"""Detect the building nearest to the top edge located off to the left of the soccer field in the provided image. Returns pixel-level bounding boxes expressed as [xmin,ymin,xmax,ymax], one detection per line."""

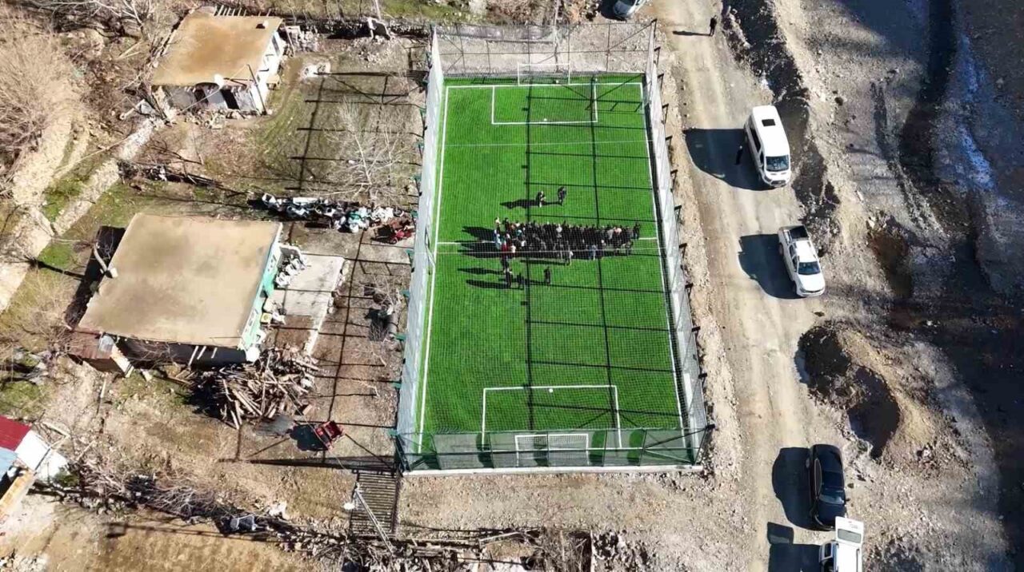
[153,9,290,112]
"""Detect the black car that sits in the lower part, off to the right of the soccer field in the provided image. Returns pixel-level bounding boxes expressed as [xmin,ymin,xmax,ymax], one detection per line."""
[808,442,857,534]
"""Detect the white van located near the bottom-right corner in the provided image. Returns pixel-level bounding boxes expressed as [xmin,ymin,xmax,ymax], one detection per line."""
[822,519,868,572]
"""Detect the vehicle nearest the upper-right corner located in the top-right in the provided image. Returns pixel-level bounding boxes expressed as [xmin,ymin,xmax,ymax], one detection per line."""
[745,102,798,186]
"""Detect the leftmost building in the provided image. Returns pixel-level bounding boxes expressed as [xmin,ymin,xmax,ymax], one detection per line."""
[0,411,63,540]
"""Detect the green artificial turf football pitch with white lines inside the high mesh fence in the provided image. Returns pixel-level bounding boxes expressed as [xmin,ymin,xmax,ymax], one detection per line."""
[403,67,702,477]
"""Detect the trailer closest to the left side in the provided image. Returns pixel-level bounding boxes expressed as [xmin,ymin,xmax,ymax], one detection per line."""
[310,418,348,456]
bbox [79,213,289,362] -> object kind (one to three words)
house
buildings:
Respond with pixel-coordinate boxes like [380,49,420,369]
[79,213,289,362]
[0,411,63,540]
[153,9,290,112]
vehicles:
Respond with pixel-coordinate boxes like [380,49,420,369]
[808,442,857,534]
[822,519,868,572]
[617,0,650,17]
[778,226,831,299]
[745,102,798,186]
